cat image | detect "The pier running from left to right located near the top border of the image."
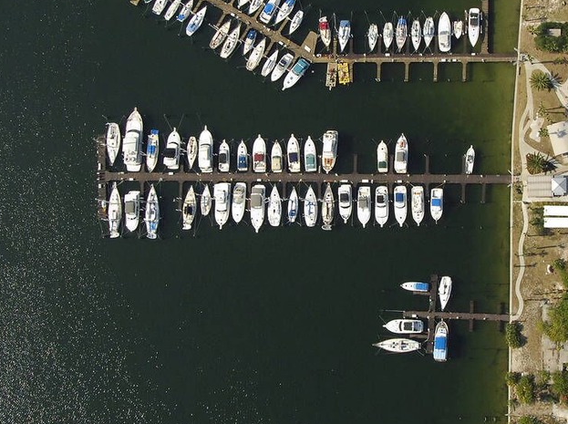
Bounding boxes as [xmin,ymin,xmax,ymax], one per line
[130,0,518,82]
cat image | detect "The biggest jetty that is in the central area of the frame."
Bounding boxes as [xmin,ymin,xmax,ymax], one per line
[96,136,512,219]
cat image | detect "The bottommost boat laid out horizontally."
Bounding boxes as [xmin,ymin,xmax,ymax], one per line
[373,339,421,353]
